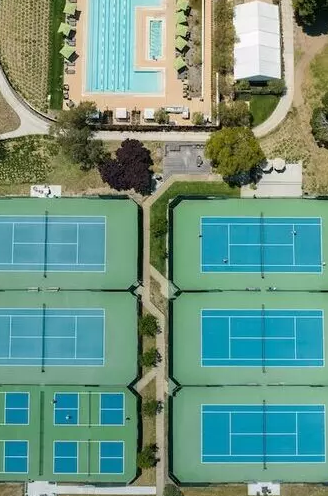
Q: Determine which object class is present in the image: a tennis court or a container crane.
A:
tennis court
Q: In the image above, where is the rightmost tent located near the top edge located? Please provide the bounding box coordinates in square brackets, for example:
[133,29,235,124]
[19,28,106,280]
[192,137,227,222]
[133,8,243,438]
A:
[231,0,281,84]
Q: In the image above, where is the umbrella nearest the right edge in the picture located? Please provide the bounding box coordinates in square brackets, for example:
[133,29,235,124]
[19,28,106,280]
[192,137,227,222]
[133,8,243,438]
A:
[273,158,286,172]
